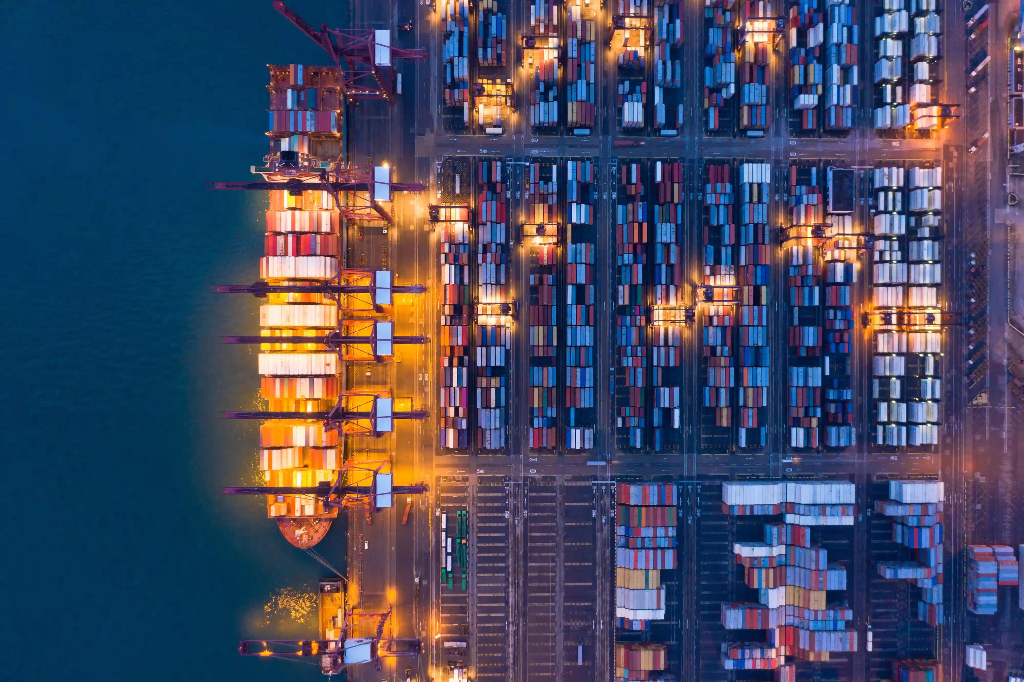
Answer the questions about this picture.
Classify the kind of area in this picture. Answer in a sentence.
The picture captures a port.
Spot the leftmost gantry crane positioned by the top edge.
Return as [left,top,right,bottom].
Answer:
[259,0,428,107]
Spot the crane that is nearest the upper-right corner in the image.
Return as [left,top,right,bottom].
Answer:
[900,103,963,130]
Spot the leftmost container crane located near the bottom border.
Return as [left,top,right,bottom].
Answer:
[239,602,422,671]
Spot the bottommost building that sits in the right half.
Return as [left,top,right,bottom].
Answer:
[827,163,856,212]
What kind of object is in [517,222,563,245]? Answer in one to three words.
container crane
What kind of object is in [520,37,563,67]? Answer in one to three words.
container crane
